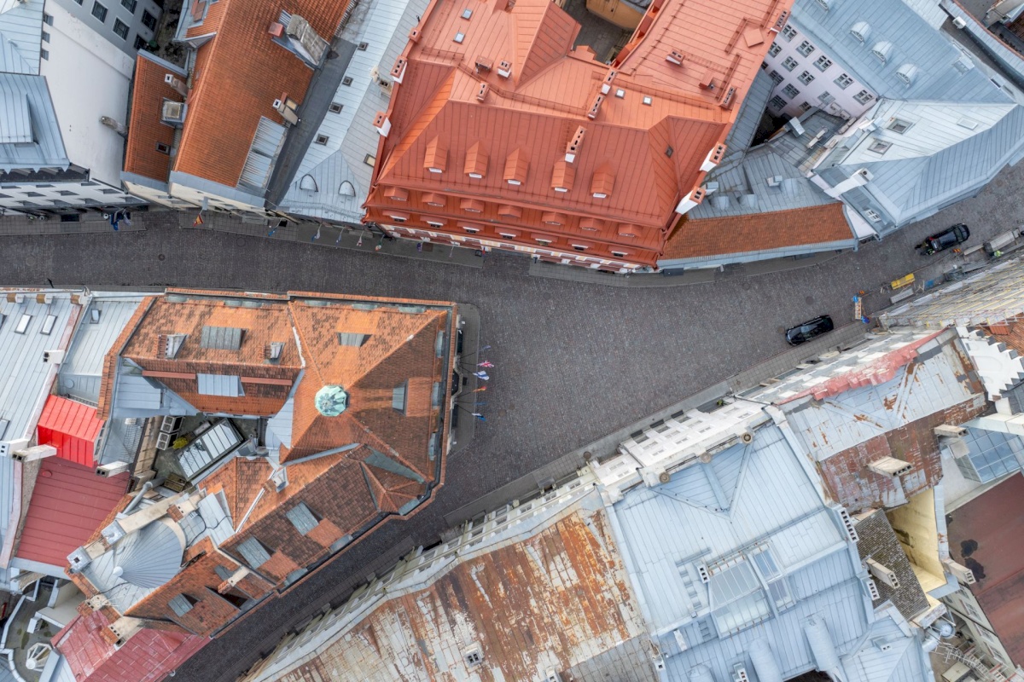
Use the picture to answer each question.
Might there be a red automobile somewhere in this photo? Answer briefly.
No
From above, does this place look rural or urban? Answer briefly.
urban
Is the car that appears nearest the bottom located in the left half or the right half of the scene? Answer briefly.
right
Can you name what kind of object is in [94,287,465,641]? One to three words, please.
building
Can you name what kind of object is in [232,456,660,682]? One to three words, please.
house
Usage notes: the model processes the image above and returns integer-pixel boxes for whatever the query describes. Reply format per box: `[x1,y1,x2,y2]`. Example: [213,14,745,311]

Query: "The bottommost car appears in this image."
[785,313,836,347]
